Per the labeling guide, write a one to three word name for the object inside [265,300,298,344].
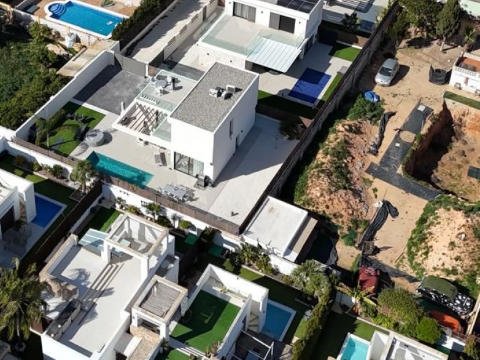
swimming pool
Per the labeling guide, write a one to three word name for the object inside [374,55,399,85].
car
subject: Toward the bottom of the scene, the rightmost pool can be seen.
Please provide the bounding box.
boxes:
[334,330,376,360]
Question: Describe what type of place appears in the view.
residential area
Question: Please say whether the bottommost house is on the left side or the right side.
right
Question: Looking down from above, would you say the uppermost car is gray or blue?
gray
